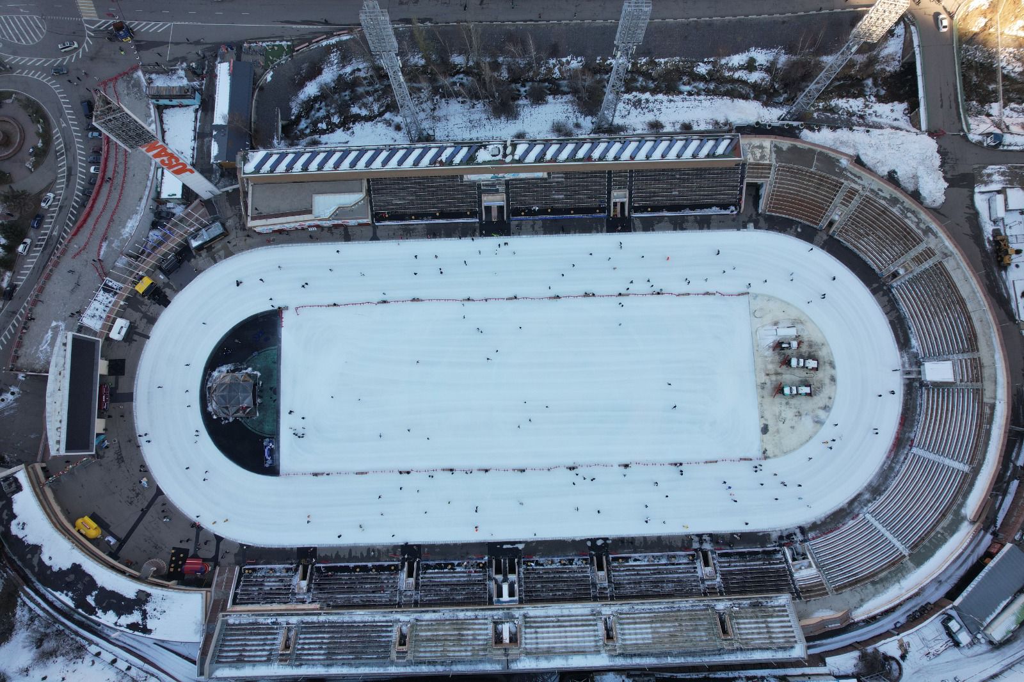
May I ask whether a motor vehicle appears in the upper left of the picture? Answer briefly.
Yes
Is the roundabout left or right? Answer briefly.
left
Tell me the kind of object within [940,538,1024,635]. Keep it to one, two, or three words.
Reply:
building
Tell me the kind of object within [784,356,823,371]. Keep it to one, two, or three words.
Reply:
vehicle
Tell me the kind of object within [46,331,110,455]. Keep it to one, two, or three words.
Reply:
building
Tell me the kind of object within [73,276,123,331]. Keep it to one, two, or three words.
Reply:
tent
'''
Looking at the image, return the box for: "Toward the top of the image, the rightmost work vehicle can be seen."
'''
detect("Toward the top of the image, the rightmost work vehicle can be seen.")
[995,231,1020,264]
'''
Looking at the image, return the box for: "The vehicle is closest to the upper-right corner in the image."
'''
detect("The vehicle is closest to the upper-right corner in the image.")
[938,12,950,31]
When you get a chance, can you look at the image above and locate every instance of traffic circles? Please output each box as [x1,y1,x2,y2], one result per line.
[0,89,54,290]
